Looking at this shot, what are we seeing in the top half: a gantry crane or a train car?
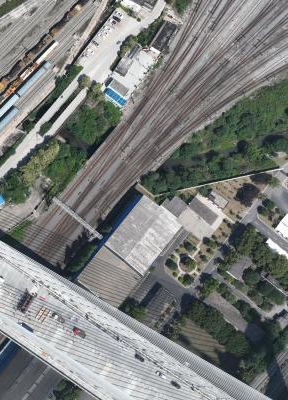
train car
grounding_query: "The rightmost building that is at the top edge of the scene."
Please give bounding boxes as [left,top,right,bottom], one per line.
[149,20,178,51]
